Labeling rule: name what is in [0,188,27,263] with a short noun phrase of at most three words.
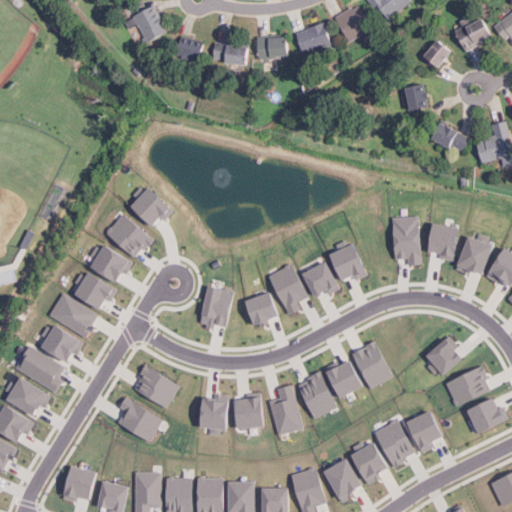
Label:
baseball field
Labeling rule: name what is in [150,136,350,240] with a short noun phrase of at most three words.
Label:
pond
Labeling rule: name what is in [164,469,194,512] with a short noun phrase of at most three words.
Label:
house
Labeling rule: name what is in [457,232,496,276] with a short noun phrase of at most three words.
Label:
house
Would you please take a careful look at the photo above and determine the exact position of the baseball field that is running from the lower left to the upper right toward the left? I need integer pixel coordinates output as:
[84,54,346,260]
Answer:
[0,24,38,89]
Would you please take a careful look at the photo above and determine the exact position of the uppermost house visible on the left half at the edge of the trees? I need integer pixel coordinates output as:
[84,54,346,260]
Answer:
[126,8,164,42]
